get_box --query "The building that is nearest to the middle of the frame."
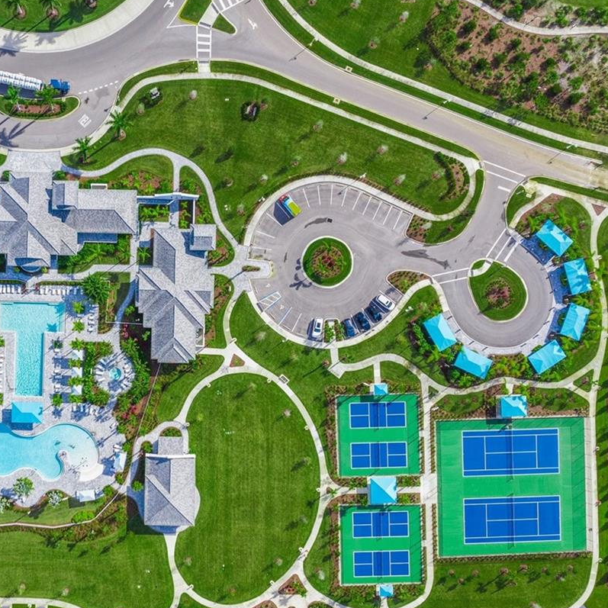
[138,224,216,362]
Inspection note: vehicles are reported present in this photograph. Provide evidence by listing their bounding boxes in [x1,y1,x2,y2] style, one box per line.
[341,318,355,341]
[277,193,302,219]
[353,314,370,333]
[312,317,322,337]
[365,305,381,324]
[376,294,395,311]
[0,79,69,97]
